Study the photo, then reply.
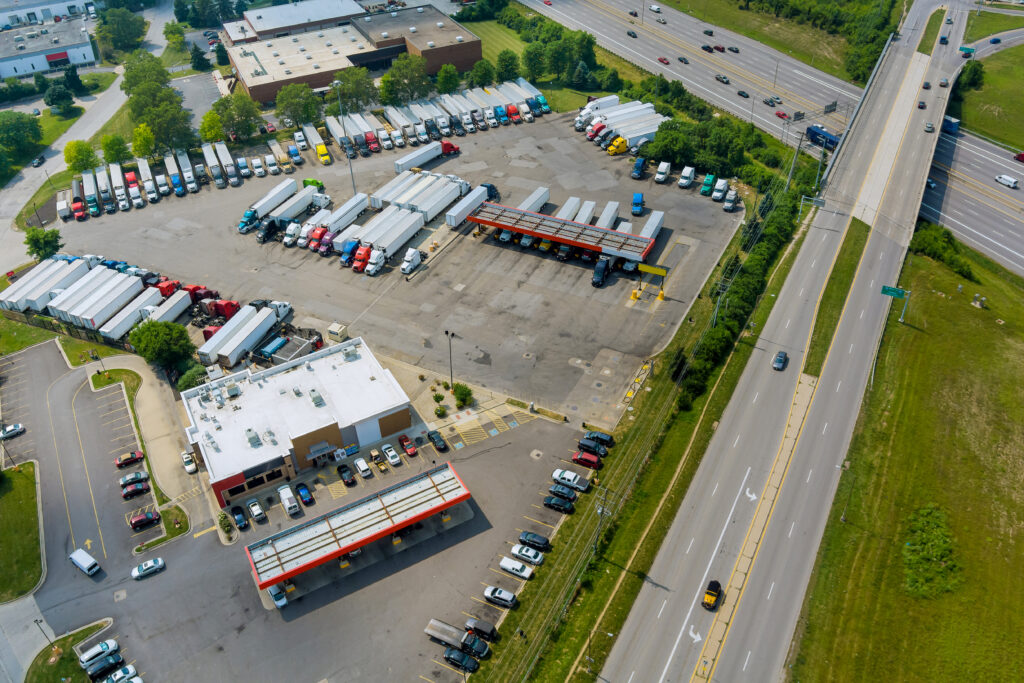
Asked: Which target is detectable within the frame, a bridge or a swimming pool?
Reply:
bridge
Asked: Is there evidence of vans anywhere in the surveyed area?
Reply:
Yes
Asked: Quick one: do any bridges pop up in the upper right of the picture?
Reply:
Yes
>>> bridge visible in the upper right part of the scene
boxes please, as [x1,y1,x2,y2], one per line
[814,48,954,250]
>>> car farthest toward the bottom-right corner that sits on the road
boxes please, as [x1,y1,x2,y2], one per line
[701,575,724,611]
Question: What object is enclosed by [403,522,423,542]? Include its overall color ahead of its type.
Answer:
black car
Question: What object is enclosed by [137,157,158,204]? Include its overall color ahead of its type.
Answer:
white truck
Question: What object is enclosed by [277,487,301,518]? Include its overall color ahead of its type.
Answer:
white vehicle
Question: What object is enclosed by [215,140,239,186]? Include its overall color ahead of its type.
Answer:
white truck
